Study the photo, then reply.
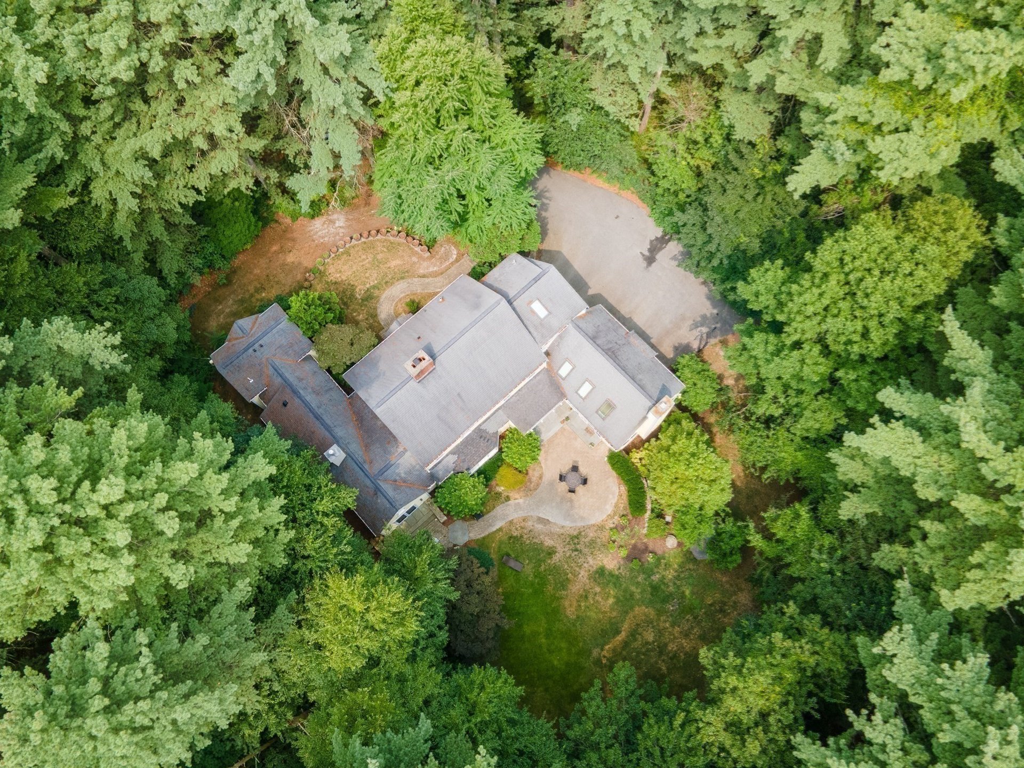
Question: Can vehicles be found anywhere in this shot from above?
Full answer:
No, this view has no vehicle in it.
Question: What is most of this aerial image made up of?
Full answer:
What you mostly see from above here is trees.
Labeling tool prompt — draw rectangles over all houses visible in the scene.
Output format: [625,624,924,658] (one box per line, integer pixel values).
[213,249,682,538]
